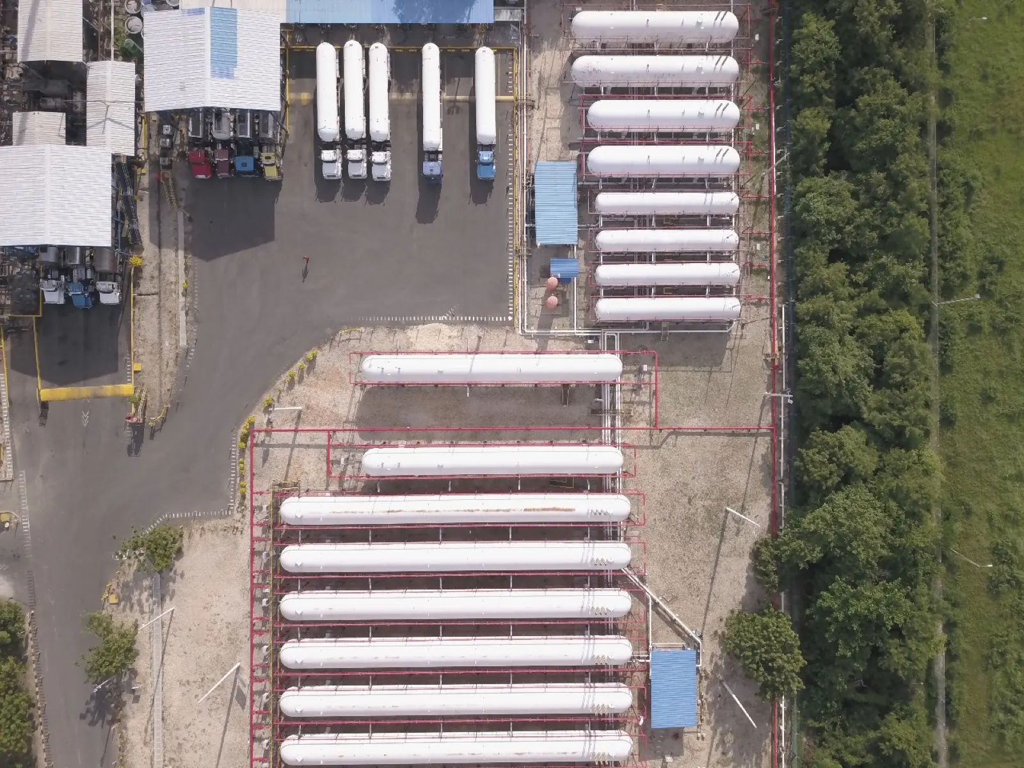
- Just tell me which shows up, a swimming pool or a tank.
tank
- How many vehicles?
12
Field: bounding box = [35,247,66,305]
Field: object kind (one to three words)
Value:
truck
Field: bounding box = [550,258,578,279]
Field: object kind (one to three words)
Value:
shed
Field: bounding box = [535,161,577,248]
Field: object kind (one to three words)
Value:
shed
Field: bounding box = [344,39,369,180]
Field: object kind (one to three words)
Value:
truck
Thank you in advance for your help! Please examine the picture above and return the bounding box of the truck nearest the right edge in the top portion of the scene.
[473,45,498,181]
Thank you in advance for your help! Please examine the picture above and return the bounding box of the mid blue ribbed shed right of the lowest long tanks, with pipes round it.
[648,644,696,728]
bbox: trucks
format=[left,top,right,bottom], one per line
[318,42,343,180]
[230,109,257,178]
[185,100,213,179]
[35,247,66,305]
[473,45,498,181]
[85,176,121,305]
[344,39,369,180]
[368,43,394,182]
[62,247,93,310]
[255,102,282,181]
[419,42,444,192]
[209,69,236,180]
